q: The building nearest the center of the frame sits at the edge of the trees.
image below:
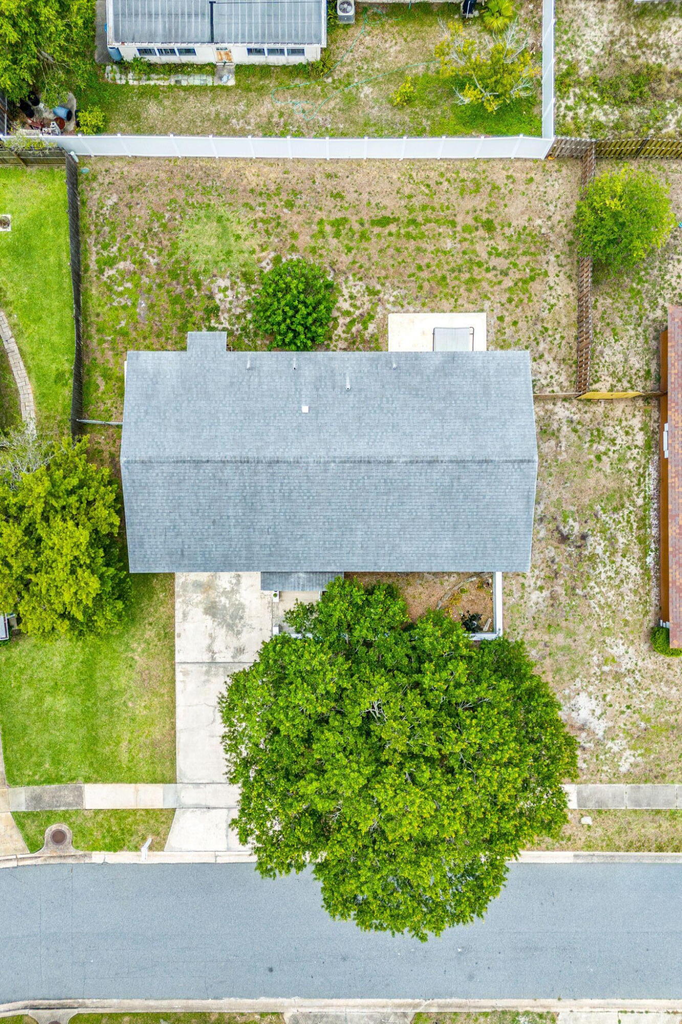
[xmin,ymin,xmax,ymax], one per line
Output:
[120,331,538,591]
